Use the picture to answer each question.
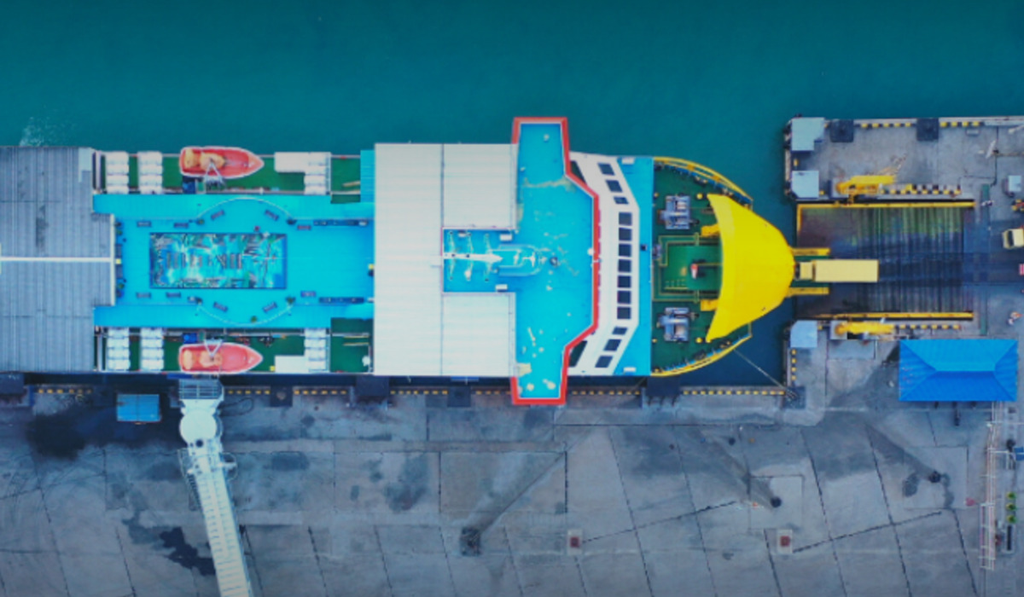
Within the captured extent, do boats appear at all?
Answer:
Yes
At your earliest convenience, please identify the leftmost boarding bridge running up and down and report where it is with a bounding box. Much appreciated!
[178,379,265,597]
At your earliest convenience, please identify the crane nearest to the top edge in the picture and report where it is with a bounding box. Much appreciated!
[827,175,895,204]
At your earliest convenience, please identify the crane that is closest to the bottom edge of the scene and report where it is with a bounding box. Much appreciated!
[827,319,894,339]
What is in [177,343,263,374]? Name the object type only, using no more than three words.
boat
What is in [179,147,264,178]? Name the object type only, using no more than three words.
boat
